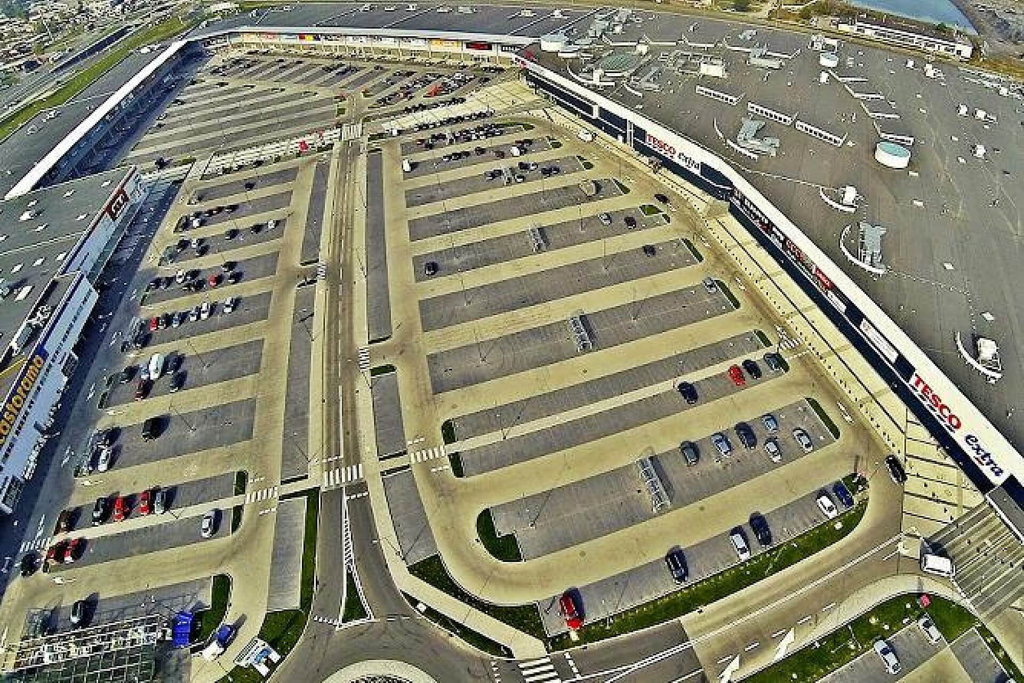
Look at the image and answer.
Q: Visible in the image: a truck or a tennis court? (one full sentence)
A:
There is a truck in the scene.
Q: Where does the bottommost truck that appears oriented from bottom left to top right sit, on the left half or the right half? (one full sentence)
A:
The bottommost truck that appears oriented from bottom left to top right is on the left side of the image.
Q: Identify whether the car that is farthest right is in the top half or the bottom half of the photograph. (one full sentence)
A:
The car that is farthest right is in the bottom half of the image.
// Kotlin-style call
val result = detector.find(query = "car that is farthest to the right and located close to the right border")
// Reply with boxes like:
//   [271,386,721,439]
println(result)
[983,656,1023,683]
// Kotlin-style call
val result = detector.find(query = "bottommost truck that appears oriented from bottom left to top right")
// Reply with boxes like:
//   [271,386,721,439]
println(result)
[201,621,238,663]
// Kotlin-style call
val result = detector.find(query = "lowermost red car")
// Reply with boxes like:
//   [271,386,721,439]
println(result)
[559,590,583,628]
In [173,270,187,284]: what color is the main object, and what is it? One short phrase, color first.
white car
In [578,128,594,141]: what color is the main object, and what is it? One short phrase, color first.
white vehicle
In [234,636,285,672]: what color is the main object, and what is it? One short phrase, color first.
white trailer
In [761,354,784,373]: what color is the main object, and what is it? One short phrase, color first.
gray car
